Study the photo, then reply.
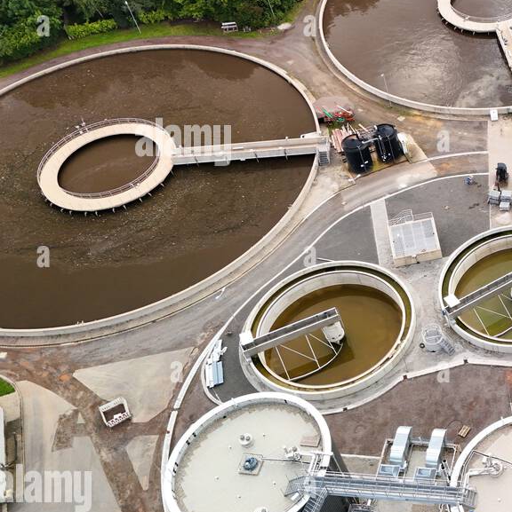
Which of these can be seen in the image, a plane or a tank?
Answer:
tank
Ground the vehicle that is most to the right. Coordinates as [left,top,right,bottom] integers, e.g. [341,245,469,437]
[494,162,506,193]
